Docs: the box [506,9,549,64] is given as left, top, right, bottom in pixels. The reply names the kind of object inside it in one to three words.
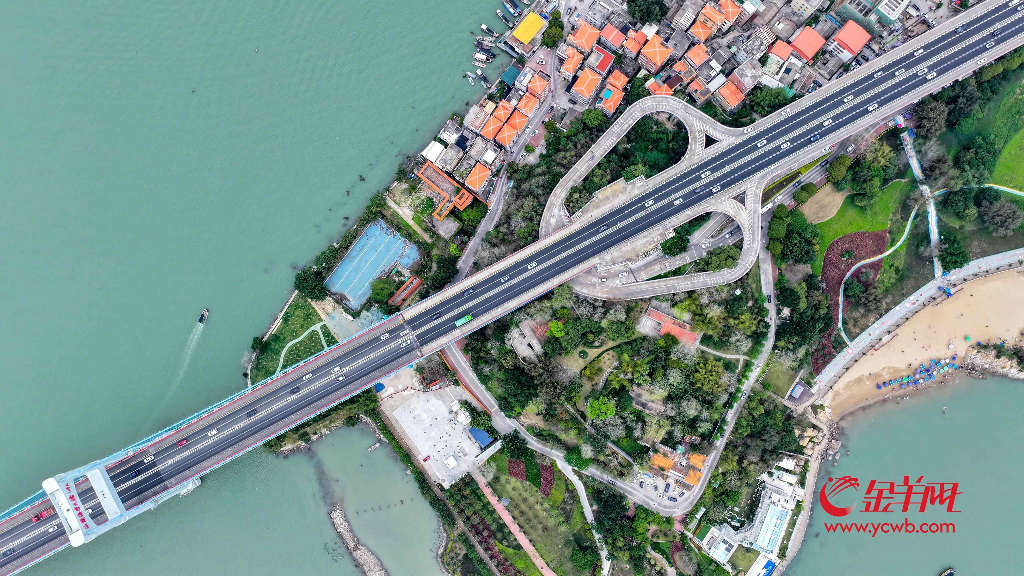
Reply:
building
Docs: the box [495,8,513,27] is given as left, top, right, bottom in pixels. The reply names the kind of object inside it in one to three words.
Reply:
boat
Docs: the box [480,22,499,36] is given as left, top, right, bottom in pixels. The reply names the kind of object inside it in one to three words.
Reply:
boat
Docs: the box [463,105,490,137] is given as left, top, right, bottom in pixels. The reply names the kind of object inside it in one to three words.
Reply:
house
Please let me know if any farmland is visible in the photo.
No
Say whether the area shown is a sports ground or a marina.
marina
